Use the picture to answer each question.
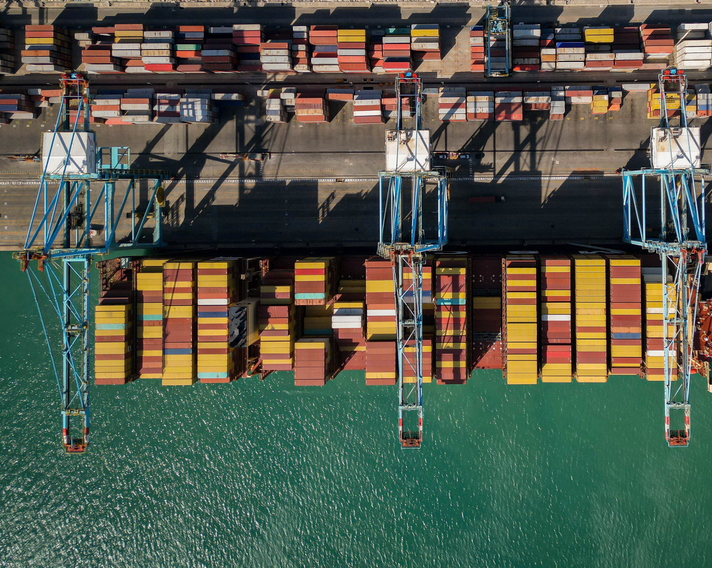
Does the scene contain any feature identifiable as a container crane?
Yes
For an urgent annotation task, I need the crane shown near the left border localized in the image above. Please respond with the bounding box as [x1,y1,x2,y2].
[17,69,175,454]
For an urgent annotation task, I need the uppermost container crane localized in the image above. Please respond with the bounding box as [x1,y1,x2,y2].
[481,1,512,83]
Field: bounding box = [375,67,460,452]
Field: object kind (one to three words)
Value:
container crane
